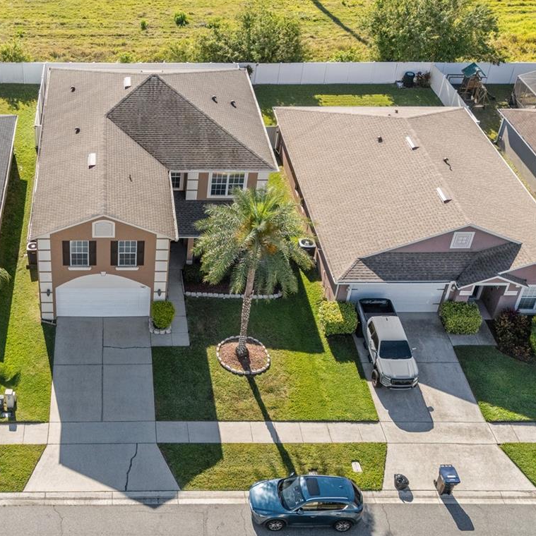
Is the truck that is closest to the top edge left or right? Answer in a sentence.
It is on the right.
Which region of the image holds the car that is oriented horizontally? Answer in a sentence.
The car that is oriented horizontally sits in the bottom section of the image.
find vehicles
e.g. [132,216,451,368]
[248,475,369,536]
[356,298,427,394]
